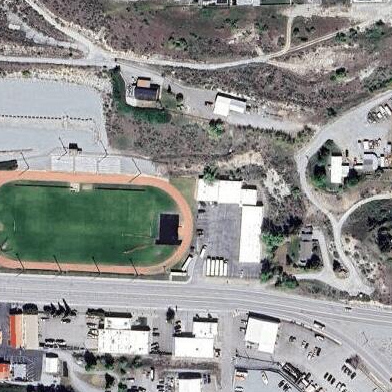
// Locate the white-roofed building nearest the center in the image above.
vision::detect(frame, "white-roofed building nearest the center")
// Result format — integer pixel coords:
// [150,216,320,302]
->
[196,178,221,202]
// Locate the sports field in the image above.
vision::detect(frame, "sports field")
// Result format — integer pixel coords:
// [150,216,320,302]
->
[0,181,184,265]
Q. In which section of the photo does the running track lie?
left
